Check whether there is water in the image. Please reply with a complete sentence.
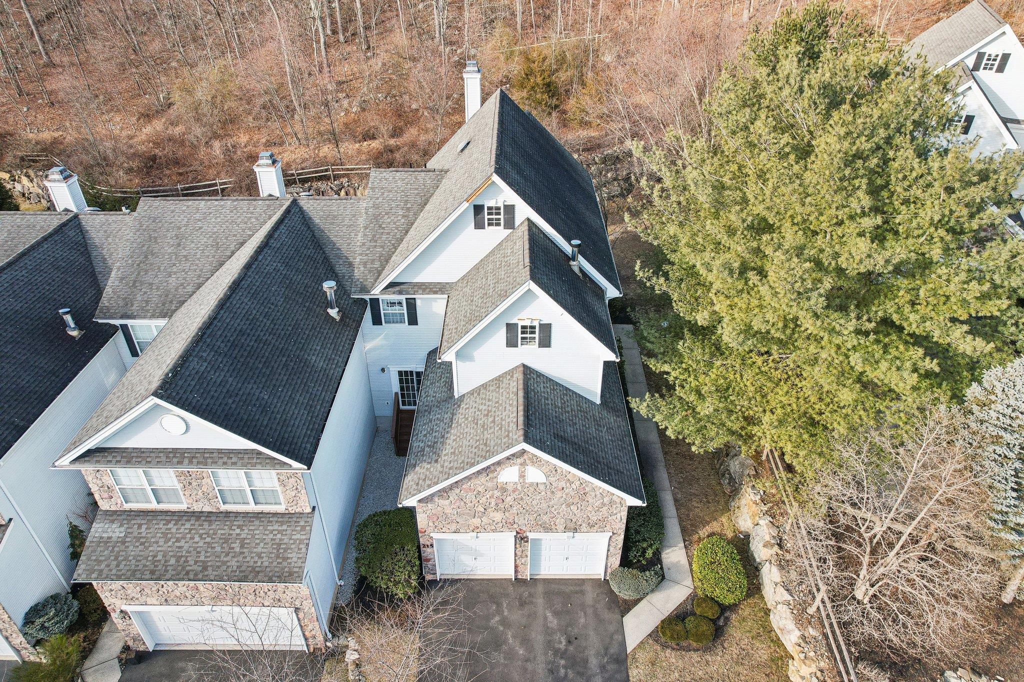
No, water can't be seen anywhere here.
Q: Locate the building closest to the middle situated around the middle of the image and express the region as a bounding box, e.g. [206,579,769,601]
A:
[348,61,650,581]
